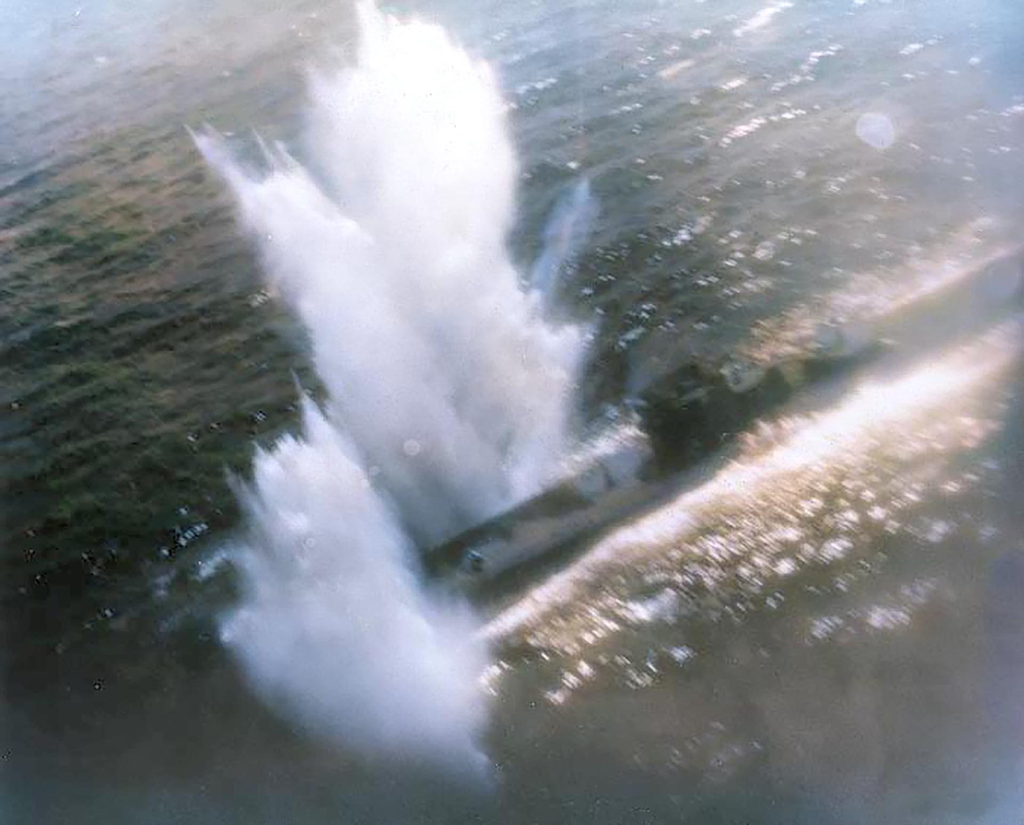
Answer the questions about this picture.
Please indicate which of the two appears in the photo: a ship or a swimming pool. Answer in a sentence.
There is a ship in the scene.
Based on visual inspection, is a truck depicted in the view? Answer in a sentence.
No, the picture doesn't show any truck.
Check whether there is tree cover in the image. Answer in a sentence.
No, no tree cover is visible.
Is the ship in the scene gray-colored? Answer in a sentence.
Yes, the ship appears gray.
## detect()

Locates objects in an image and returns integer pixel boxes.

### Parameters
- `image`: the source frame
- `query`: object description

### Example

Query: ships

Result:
[402,340,904,591]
